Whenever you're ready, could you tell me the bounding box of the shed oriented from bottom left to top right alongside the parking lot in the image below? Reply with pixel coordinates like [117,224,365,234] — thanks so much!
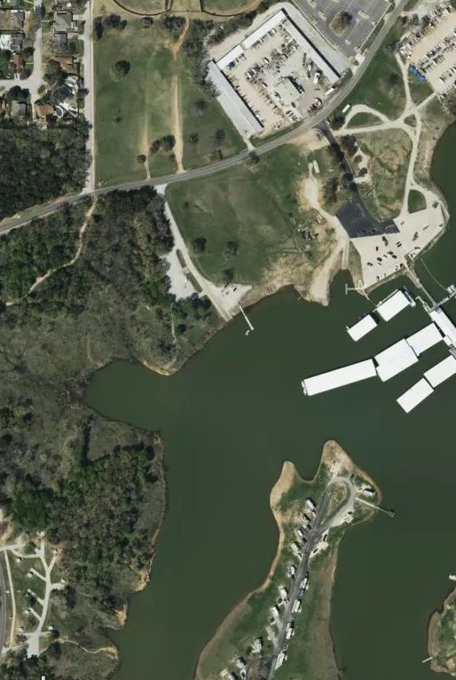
[242,9,286,49]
